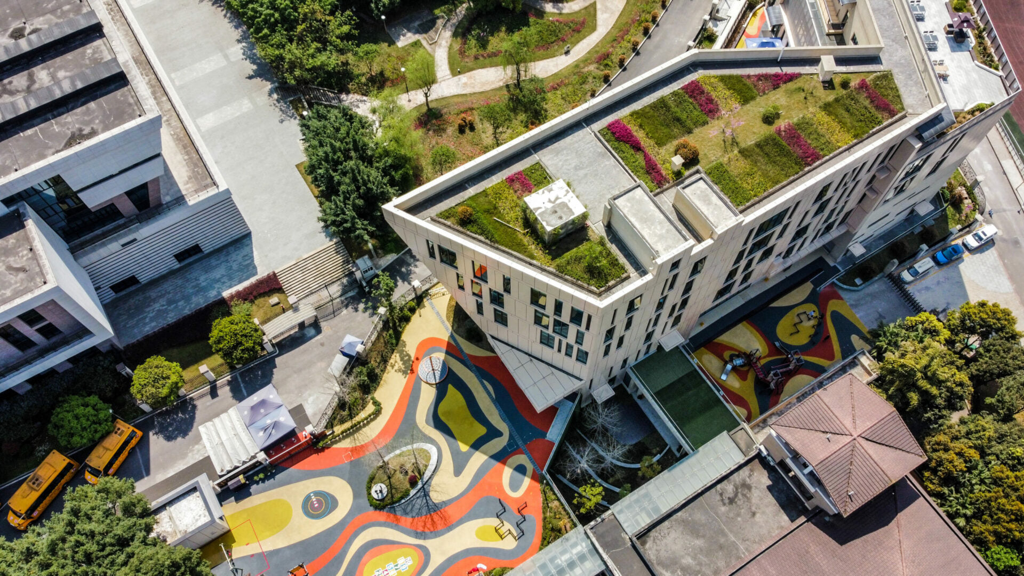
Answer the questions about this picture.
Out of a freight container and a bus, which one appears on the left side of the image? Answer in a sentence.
Looking on the left side of the image, you will find a bus.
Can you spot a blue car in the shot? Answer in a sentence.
Yes, this view includes a blue car.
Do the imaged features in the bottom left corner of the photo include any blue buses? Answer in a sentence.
No, no blue bus appears in the bottom left corner of the photo.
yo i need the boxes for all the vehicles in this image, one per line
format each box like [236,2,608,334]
[931,241,967,267]
[897,253,938,285]
[80,422,145,486]
[4,452,84,530]
[961,221,1001,251]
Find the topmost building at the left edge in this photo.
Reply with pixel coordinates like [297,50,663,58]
[0,0,259,312]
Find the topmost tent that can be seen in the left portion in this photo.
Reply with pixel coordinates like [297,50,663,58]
[339,335,368,367]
